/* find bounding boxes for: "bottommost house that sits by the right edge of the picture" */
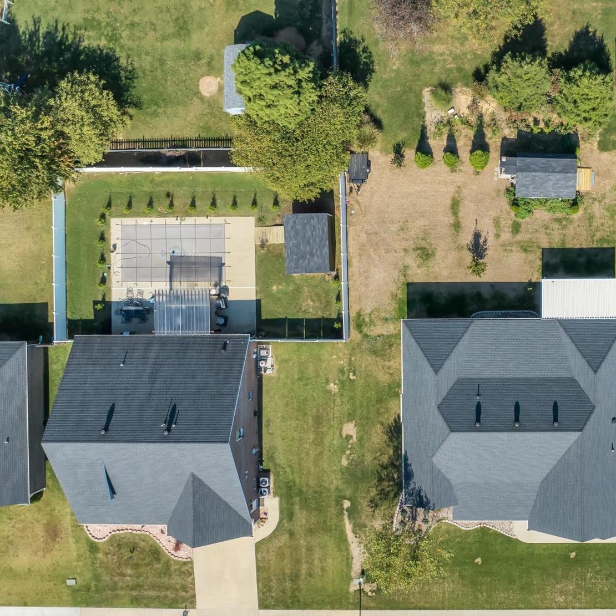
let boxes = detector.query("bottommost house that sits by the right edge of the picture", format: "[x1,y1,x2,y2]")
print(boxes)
[401,317,616,543]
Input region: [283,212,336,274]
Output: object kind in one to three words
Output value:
shed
